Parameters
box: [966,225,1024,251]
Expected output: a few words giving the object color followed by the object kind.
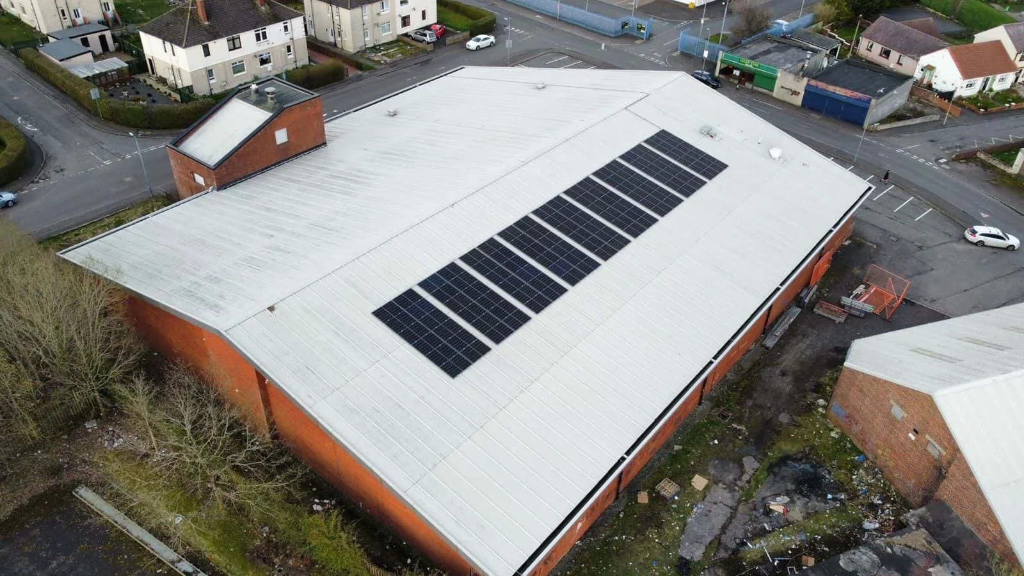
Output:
white car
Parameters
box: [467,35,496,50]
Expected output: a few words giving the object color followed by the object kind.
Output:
white car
